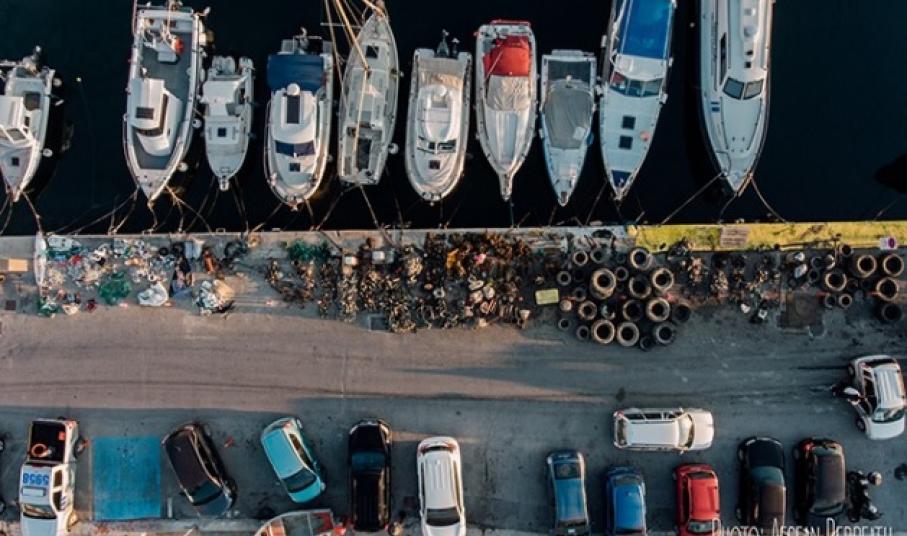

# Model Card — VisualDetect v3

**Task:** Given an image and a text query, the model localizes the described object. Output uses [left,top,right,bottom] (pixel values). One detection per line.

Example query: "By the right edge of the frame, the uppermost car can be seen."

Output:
[841,352,907,440]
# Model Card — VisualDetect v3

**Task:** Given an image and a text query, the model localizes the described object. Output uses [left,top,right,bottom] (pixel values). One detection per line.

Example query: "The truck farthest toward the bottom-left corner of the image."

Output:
[23,417,85,535]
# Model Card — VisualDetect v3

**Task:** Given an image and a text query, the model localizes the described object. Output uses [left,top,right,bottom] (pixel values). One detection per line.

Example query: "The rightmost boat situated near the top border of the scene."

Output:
[693,0,774,195]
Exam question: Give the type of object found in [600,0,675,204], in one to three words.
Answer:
boat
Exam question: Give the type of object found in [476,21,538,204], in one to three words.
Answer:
boat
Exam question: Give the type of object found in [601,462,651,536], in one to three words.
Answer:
car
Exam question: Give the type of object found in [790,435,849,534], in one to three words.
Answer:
car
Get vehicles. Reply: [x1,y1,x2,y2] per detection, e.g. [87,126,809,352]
[345,416,397,528]
[23,417,85,535]
[841,352,907,440]
[671,460,722,536]
[166,416,236,514]
[735,434,791,536]
[790,435,849,534]
[544,447,593,536]
[265,415,323,502]
[609,403,714,456]
[416,432,469,536]
[845,473,888,523]
[601,462,651,536]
